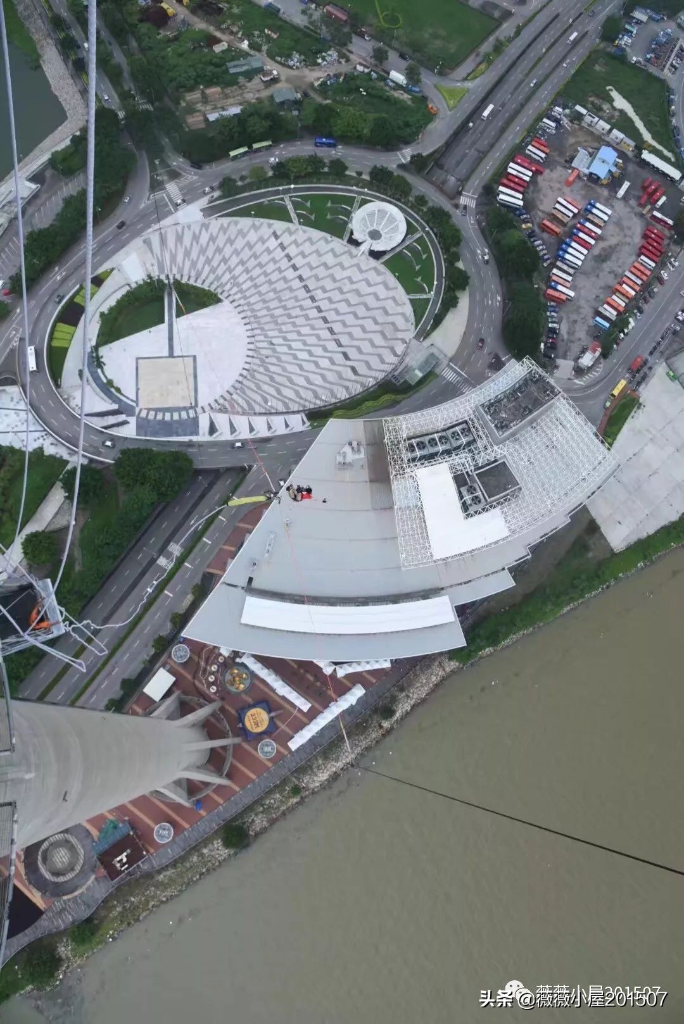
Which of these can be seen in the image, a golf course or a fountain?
fountain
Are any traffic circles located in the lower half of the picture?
No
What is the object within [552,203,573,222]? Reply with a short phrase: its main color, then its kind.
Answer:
white vehicle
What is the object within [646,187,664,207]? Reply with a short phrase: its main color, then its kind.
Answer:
red vehicle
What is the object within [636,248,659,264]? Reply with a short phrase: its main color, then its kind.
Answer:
red vehicle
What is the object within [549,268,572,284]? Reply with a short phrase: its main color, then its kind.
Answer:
white vehicle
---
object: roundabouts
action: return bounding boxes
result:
[49,182,446,439]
